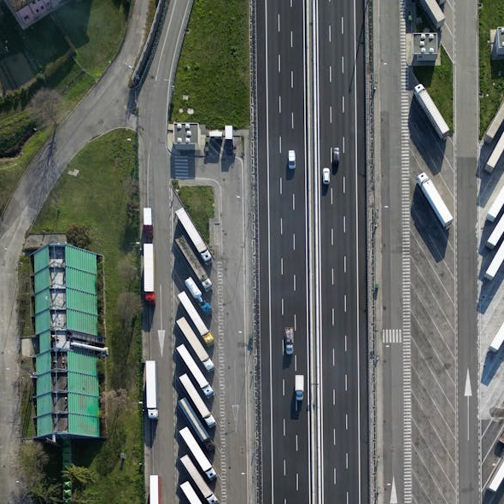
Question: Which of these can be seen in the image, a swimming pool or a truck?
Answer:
truck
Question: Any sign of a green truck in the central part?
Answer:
No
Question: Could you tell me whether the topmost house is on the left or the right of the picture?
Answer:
left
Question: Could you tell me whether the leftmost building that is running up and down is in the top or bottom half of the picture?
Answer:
bottom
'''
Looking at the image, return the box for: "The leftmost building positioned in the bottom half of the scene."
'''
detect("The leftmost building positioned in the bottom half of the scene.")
[33,243,106,440]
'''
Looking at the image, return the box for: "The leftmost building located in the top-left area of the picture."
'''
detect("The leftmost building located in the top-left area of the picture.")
[5,0,75,33]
